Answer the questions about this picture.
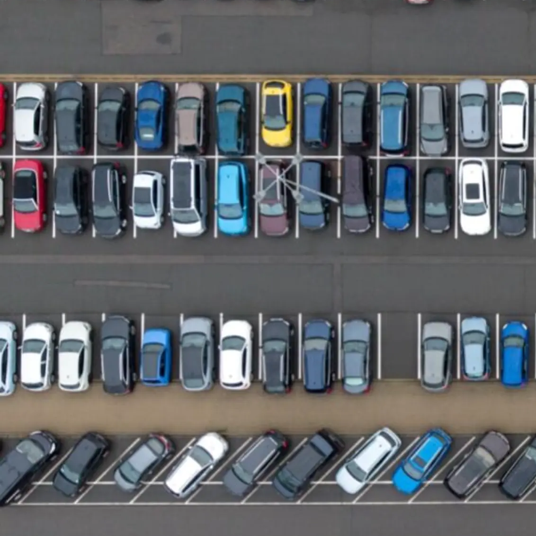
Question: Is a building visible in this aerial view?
No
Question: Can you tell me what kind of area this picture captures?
parking lot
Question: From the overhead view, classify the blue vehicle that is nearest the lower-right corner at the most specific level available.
automobile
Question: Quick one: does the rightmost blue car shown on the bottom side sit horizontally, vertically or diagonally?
vertically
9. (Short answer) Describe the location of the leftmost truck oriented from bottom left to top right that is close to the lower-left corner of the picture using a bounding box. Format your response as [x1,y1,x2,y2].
[0,427,65,515]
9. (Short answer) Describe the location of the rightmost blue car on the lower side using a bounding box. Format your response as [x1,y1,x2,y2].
[498,321,530,387]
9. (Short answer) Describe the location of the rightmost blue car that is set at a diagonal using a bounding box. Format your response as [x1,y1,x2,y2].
[394,425,453,495]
